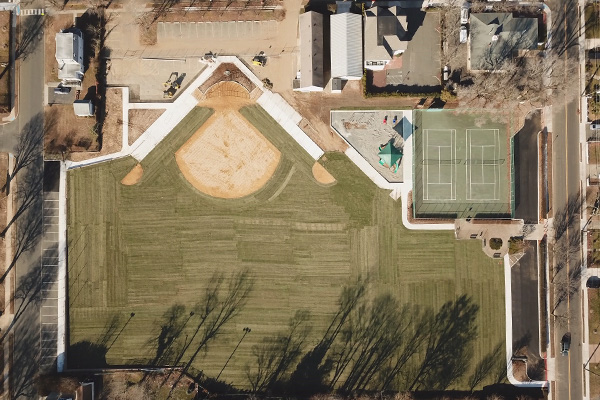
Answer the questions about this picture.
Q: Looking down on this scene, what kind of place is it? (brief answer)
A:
sports ground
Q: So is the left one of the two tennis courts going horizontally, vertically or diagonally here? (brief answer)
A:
vertically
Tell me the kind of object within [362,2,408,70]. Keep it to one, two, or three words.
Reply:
building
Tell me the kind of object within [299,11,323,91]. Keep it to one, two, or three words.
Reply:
barn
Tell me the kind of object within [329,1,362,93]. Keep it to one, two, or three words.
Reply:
barn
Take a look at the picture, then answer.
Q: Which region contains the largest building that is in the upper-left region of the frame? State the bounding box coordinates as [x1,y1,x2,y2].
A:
[56,32,84,88]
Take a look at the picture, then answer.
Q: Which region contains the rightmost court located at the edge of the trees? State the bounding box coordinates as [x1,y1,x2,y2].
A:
[461,110,507,218]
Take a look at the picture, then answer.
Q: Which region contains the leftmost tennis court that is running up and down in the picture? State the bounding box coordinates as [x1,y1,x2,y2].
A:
[414,110,461,218]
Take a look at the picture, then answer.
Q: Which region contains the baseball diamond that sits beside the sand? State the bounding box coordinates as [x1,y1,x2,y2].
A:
[66,63,511,395]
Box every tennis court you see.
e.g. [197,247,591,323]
[461,110,507,218]
[414,110,461,218]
